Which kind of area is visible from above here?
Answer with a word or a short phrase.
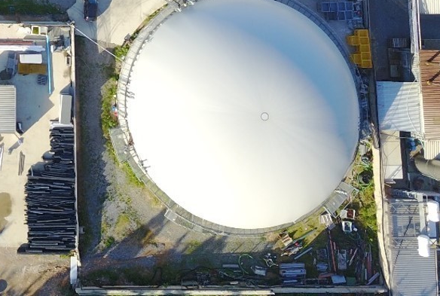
industrial area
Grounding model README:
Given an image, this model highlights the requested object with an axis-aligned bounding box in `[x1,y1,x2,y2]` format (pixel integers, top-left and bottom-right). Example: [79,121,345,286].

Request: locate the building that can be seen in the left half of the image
[55,92,72,124]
